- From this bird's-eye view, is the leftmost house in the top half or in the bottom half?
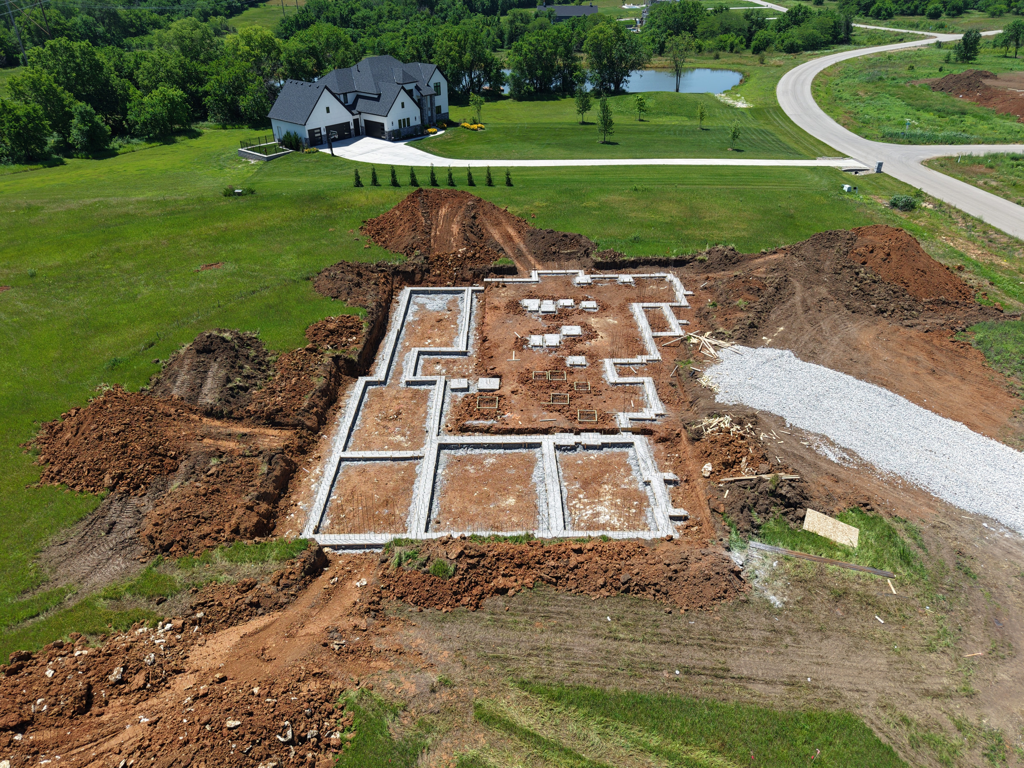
top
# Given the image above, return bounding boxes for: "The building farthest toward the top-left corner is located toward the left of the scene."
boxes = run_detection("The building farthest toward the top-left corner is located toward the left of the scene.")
[264,55,450,146]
